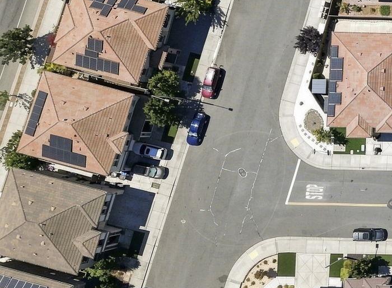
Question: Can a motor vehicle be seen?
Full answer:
Yes, looking at the shot, I can spot a motor vehicle.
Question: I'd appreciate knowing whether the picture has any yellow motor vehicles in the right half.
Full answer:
No, looking in the right half, there is no yellow motor vehicle.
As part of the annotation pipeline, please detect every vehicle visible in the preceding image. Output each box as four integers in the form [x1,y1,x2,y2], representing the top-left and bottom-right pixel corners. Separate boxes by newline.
[355,226,386,243]
[205,66,225,97]
[132,161,170,180]
[134,141,168,159]
[189,113,209,145]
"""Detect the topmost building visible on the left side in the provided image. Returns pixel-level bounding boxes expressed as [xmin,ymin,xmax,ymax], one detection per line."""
[52,0,183,85]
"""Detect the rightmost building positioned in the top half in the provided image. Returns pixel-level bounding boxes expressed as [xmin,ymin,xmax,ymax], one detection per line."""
[326,31,392,138]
